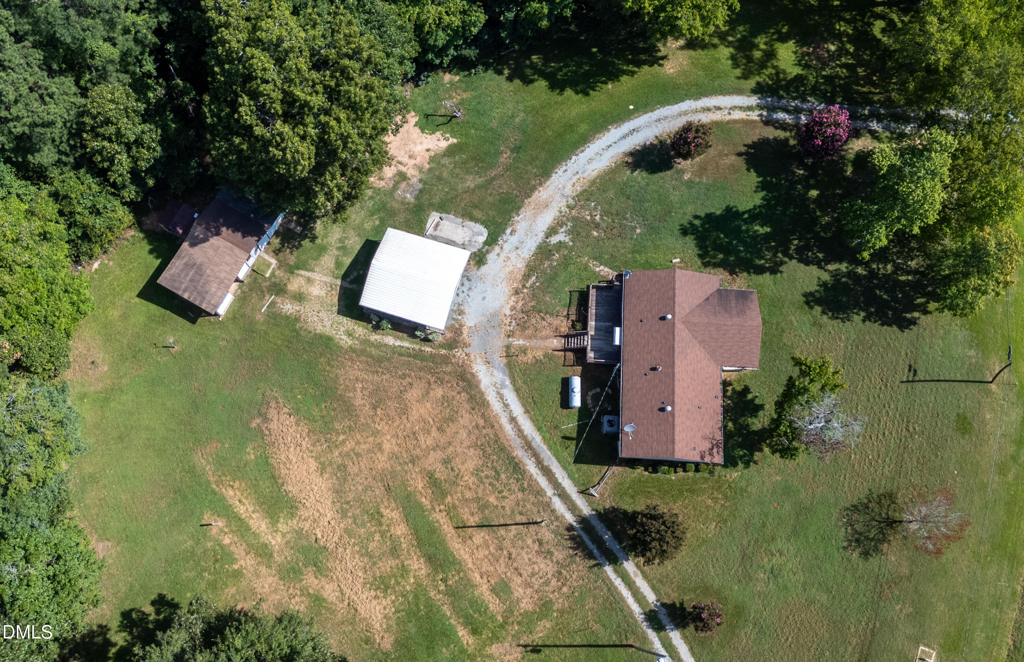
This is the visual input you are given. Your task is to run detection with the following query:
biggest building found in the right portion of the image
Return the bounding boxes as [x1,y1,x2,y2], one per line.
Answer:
[612,269,763,465]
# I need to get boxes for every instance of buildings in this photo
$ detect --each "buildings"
[358,227,472,334]
[157,175,297,320]
[612,269,763,465]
